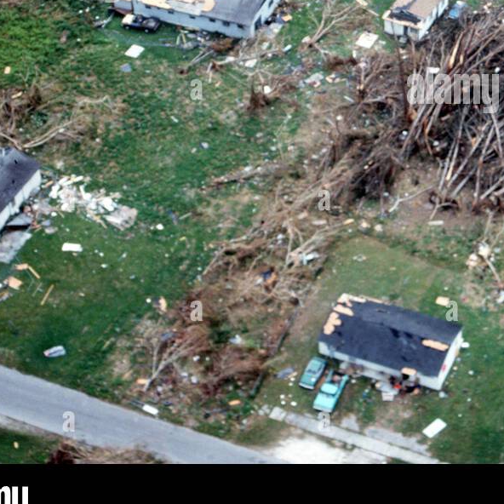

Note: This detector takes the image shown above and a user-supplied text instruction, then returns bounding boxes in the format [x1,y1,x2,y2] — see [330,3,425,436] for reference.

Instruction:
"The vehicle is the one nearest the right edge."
[316,363,355,413]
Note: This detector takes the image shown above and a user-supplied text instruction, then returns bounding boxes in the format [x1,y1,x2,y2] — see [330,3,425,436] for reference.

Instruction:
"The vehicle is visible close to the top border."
[122,14,161,32]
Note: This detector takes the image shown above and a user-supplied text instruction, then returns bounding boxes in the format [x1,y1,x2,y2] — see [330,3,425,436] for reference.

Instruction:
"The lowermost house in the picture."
[319,293,461,390]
